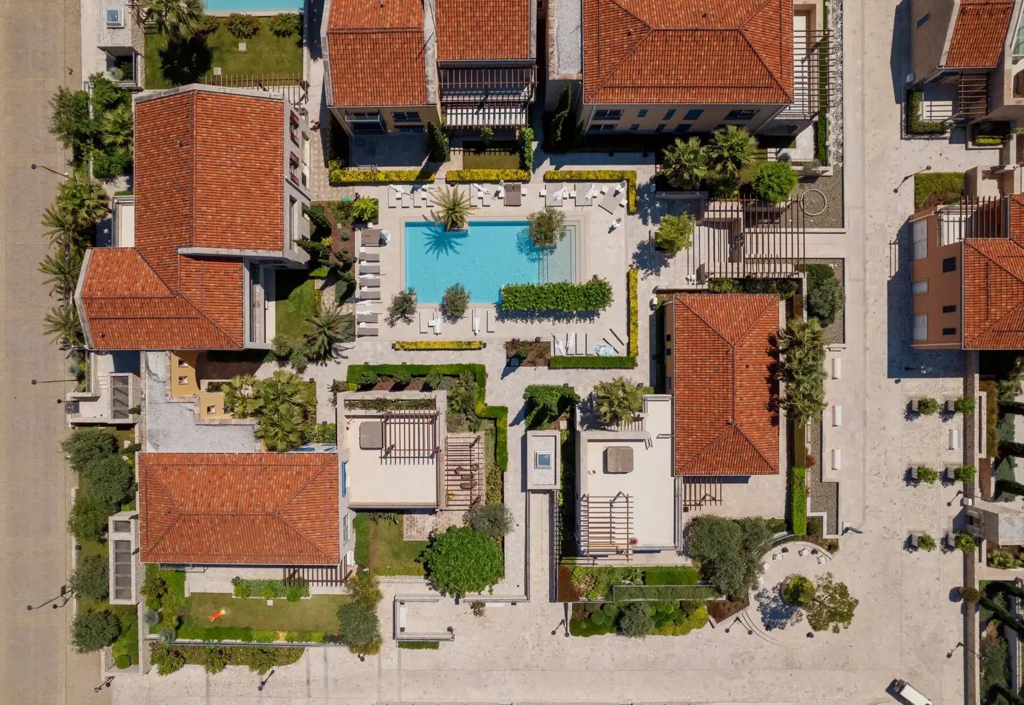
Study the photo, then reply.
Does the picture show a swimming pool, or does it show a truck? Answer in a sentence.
There is a swimming pool in the scene.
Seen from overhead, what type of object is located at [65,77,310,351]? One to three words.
house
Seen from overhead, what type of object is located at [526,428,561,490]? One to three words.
building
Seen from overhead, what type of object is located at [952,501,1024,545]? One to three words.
building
